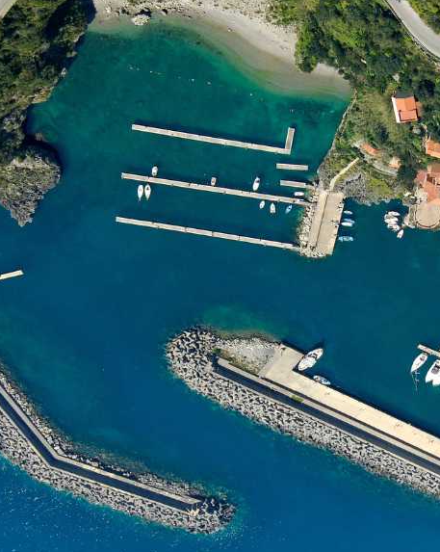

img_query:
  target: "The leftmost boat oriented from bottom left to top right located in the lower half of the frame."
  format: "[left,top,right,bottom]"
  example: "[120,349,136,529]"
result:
[297,349,322,374]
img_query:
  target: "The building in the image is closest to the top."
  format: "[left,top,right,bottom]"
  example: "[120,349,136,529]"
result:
[397,96,417,123]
